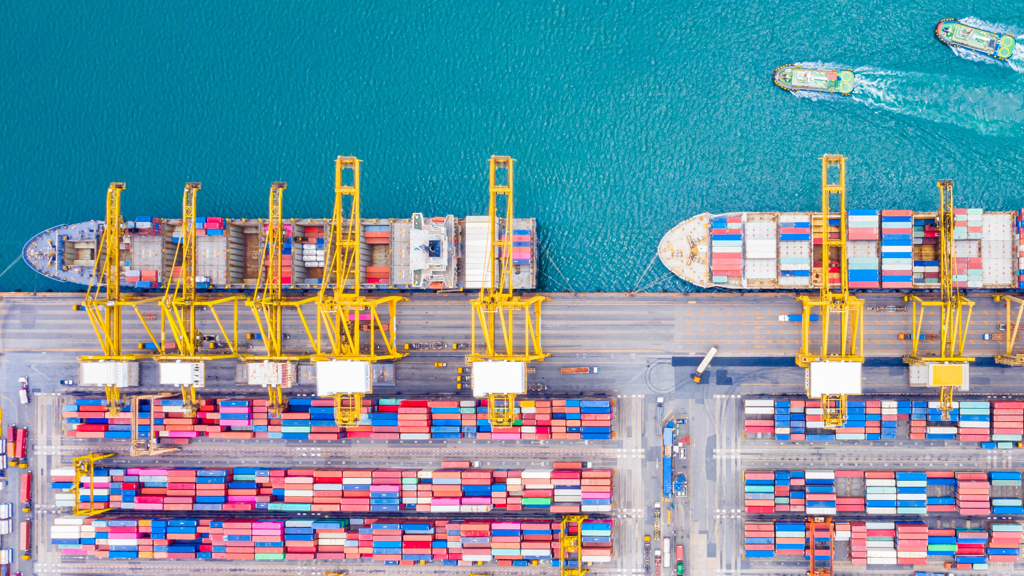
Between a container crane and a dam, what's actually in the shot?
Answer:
container crane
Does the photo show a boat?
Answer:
Yes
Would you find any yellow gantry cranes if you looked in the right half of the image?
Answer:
Yes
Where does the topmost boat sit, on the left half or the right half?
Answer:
right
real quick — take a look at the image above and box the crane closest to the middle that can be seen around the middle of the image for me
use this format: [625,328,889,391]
[469,155,560,429]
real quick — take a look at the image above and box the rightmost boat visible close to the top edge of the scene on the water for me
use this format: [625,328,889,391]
[934,17,1017,61]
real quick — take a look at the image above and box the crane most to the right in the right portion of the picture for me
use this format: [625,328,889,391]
[986,296,1024,361]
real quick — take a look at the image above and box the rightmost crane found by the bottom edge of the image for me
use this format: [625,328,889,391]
[800,512,836,576]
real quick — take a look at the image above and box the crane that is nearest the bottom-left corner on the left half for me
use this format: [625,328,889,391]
[72,449,127,513]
